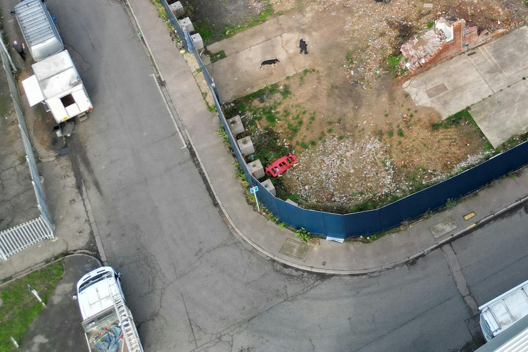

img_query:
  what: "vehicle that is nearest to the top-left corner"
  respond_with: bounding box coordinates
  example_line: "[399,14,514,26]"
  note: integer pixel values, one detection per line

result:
[16,5,67,64]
